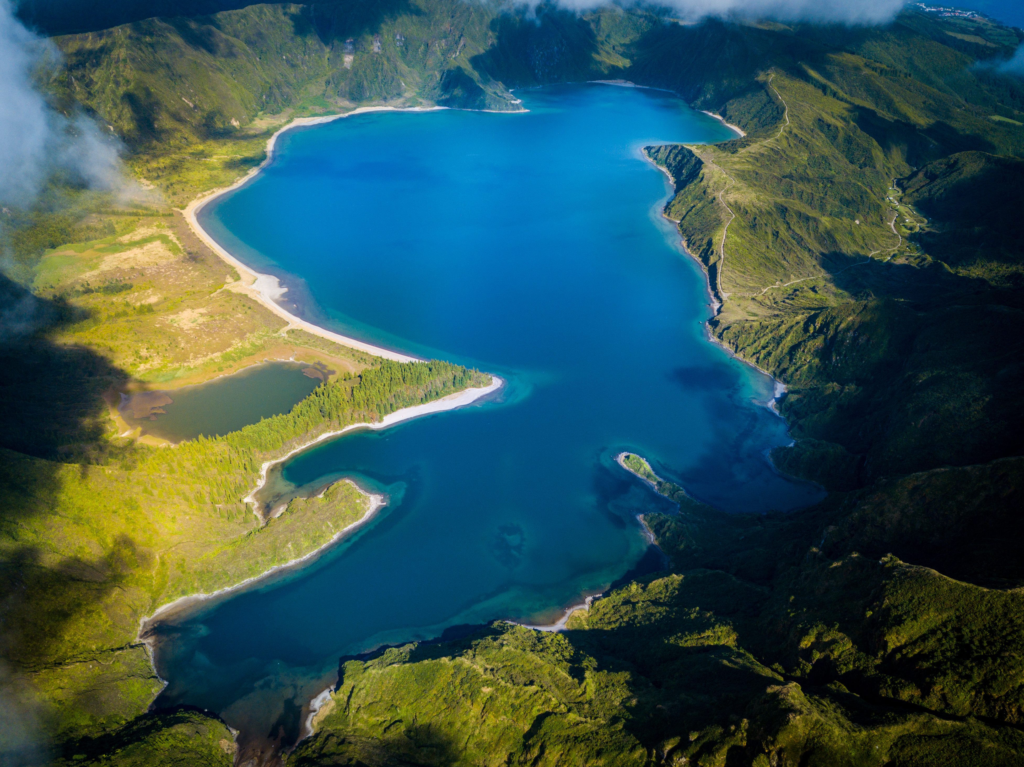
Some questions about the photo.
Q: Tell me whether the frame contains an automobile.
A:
No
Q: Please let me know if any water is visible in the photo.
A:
Yes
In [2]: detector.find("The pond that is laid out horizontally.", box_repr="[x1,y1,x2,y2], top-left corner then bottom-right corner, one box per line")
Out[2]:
[116,360,326,444]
